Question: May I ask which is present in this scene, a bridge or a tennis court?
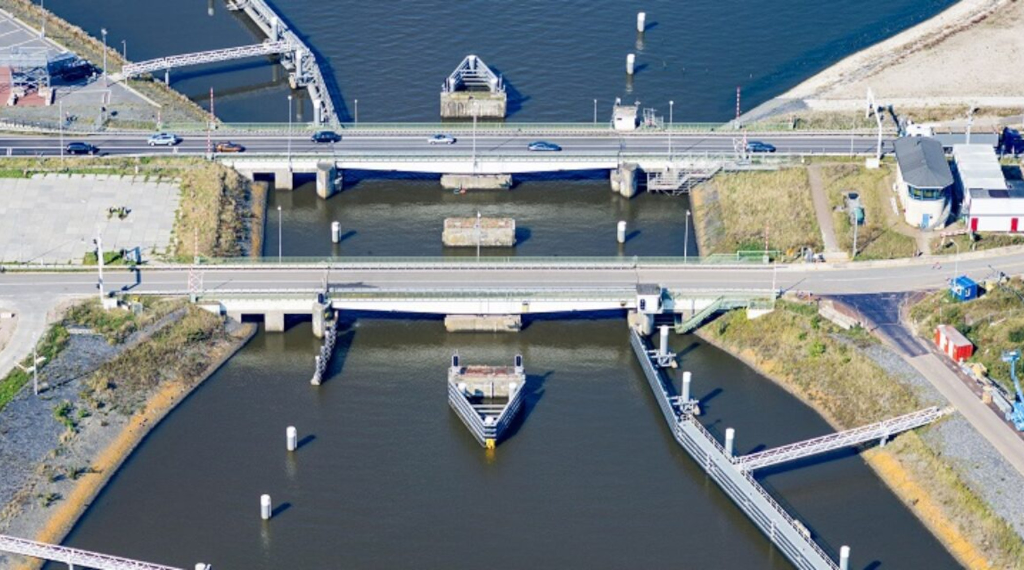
bridge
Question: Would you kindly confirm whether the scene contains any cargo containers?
Yes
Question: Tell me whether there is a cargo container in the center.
No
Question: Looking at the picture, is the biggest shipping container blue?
No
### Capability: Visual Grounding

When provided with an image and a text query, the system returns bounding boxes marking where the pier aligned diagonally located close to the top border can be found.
[224,0,342,126]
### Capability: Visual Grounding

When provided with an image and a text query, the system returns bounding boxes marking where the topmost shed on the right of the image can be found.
[610,87,645,126]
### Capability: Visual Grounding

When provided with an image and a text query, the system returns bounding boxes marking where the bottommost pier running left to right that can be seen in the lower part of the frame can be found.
[448,366,525,396]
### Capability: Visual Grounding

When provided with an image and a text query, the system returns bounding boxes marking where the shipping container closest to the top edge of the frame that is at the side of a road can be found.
[931,321,972,361]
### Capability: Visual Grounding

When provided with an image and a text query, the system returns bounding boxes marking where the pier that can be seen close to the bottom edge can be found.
[676,411,859,570]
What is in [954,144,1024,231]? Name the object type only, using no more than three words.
building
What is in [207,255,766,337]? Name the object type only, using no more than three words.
bridge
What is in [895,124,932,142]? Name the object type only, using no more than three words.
vehicle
